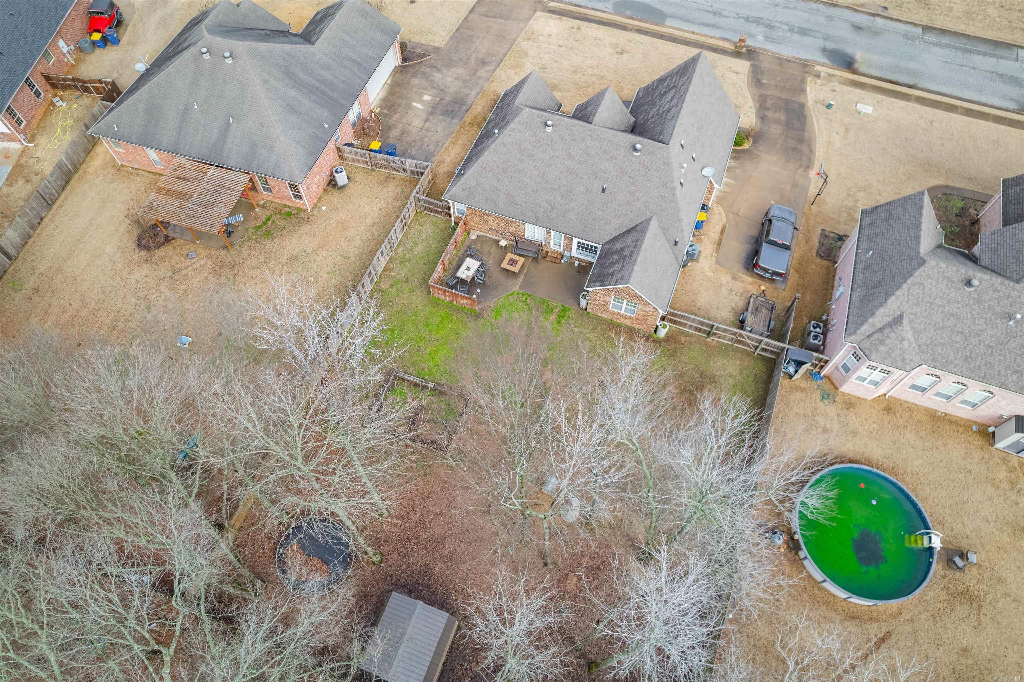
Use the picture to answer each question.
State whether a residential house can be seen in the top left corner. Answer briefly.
Yes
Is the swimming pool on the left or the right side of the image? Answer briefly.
right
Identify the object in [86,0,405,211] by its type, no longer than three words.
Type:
house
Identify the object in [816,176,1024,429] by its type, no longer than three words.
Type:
house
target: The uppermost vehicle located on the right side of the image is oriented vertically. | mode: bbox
[752,203,800,281]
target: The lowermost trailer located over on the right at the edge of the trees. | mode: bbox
[739,288,776,338]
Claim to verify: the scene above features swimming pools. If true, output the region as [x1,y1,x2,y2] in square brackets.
[788,465,937,605]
